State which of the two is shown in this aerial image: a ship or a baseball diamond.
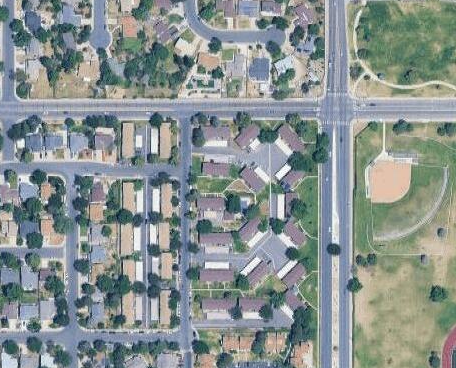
baseball diamond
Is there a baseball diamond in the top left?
No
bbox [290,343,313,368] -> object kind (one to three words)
building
